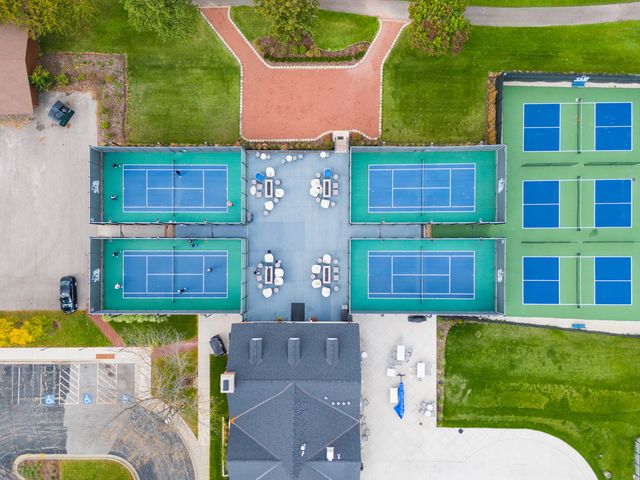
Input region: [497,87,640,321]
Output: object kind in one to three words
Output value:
sports court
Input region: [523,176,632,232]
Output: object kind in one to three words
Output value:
sports court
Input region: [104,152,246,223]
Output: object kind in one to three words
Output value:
tennis court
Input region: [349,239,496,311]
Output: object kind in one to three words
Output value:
tennis court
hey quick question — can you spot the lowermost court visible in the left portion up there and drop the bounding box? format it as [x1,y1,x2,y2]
[104,239,247,311]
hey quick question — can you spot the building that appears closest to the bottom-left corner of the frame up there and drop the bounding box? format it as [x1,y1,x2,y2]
[221,321,364,480]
